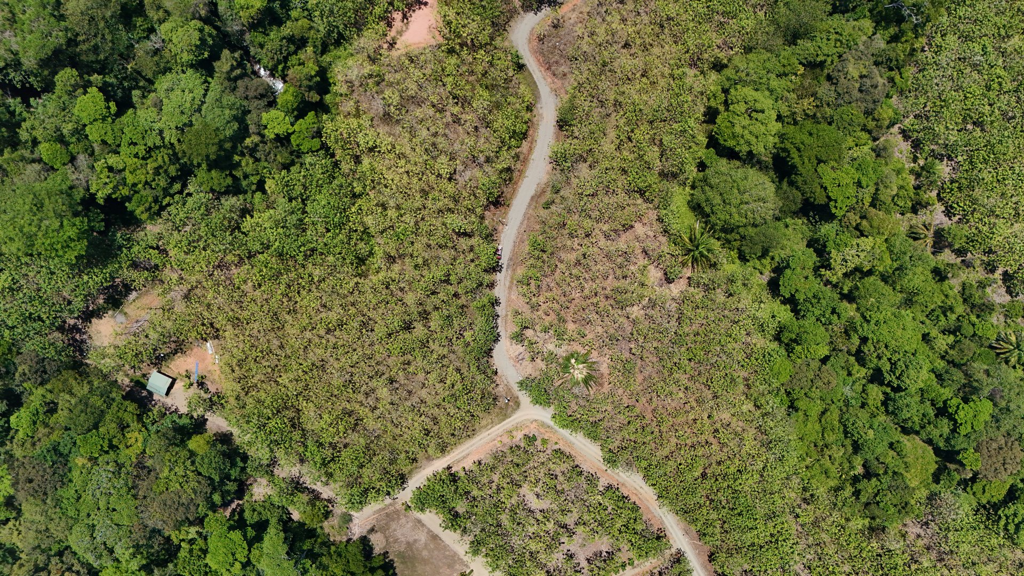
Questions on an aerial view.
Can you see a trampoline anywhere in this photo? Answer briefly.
No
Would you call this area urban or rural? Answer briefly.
rural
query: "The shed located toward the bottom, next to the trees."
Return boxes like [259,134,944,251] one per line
[146,371,176,396]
